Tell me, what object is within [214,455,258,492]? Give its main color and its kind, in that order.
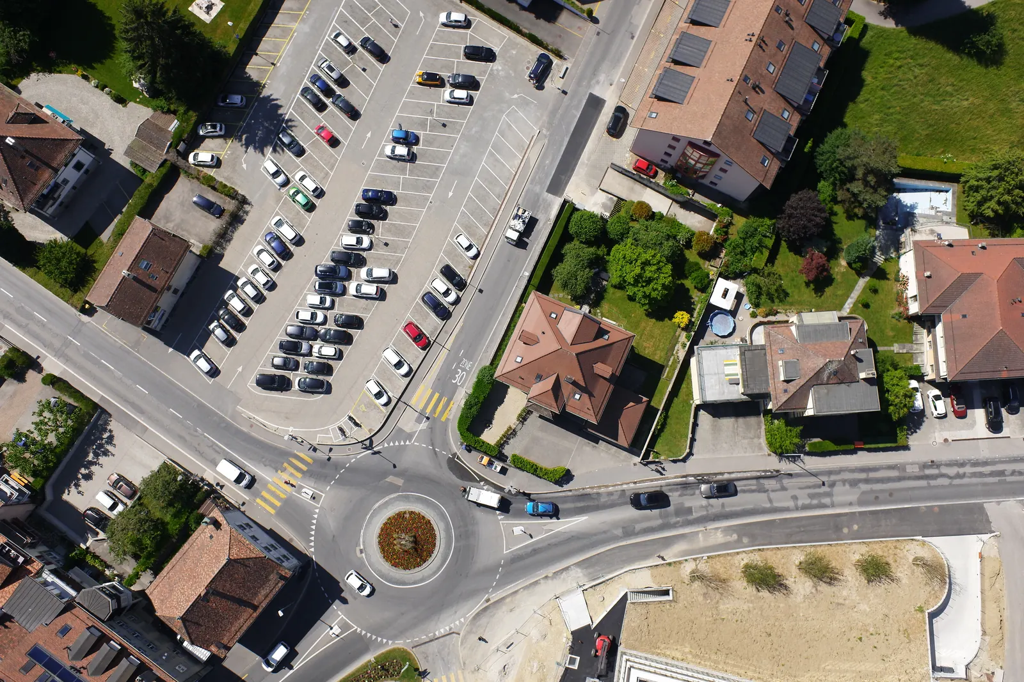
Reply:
white vehicle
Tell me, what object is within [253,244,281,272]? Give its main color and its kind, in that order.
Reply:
white car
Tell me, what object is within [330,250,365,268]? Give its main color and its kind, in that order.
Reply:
black car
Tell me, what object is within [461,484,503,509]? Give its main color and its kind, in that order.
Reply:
white truck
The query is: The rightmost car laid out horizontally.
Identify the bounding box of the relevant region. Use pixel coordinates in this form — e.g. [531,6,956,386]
[698,481,737,499]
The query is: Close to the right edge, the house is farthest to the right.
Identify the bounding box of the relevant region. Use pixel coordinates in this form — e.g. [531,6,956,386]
[885,223,1024,385]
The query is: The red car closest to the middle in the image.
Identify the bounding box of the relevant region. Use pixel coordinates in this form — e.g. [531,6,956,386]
[401,319,430,350]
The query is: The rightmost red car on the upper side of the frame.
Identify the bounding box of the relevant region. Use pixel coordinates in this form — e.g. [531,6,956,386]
[631,157,656,176]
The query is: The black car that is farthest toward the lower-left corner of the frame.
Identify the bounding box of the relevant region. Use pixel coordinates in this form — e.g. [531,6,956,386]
[82,506,113,533]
